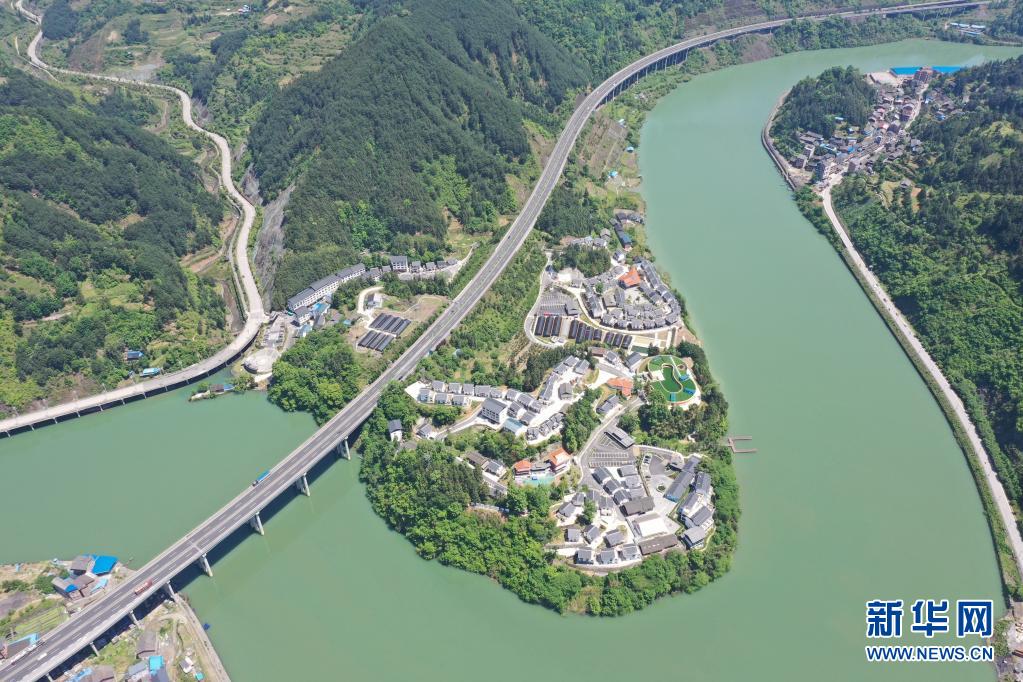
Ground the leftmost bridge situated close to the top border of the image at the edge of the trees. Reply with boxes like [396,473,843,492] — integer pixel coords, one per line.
[589,26,758,101]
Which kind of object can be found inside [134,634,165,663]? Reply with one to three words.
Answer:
house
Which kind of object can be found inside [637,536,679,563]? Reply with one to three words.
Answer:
house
